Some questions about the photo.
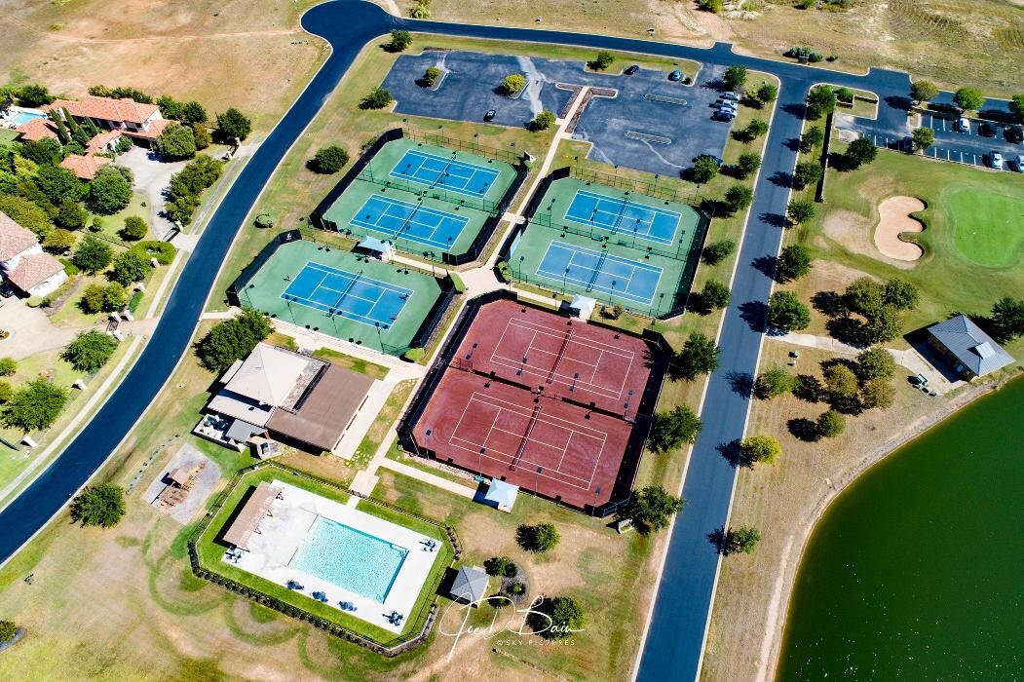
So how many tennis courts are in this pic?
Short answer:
7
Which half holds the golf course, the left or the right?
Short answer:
right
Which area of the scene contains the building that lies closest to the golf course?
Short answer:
right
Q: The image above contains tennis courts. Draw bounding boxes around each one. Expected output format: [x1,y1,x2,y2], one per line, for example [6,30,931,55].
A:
[327,179,496,261]
[240,240,448,357]
[415,366,650,508]
[530,178,711,263]
[508,221,698,319]
[449,300,668,425]
[358,138,523,213]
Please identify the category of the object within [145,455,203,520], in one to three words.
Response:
playground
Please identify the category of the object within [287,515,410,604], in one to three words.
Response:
swimming pool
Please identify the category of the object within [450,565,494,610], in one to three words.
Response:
gazebo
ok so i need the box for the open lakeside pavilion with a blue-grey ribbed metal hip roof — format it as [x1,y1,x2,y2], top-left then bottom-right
[922,315,1017,385]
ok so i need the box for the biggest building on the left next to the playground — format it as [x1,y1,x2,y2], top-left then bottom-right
[209,342,376,456]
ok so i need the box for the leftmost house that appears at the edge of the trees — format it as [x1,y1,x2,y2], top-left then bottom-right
[0,212,69,297]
